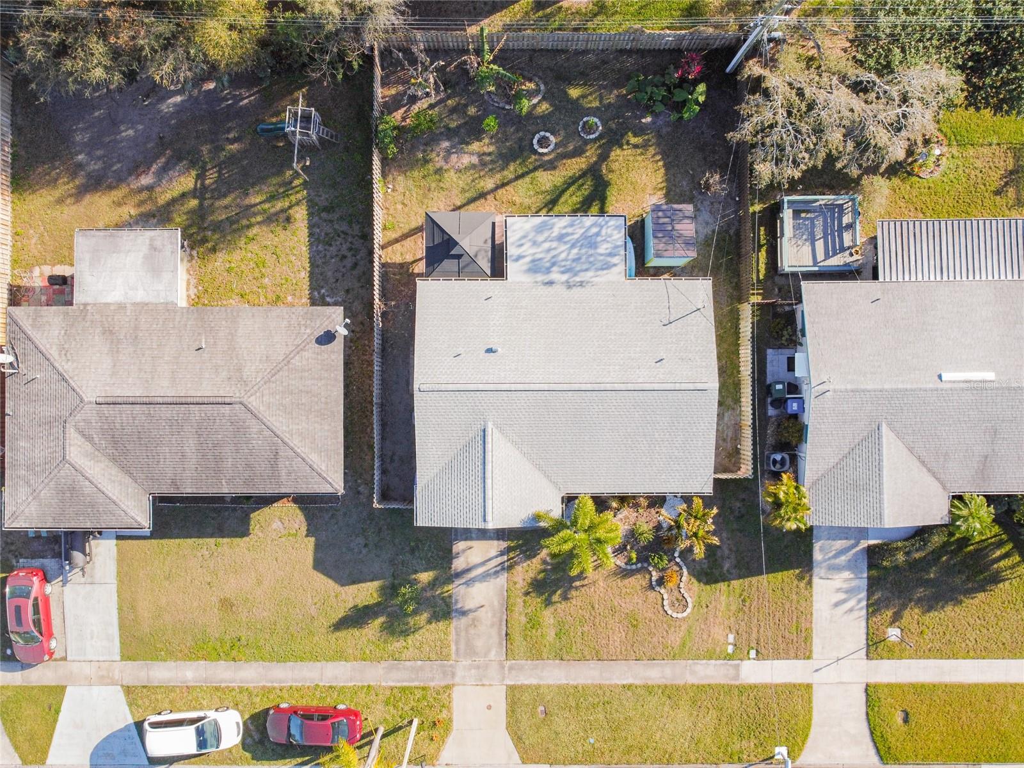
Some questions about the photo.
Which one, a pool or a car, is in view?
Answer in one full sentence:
Of the two, only a car appears.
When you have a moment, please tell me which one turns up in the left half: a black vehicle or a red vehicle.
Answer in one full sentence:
The feature located in the left half is a red vehicle.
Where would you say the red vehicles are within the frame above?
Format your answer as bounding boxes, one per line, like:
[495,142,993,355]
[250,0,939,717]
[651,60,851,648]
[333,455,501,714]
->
[6,570,61,662]
[269,703,361,753]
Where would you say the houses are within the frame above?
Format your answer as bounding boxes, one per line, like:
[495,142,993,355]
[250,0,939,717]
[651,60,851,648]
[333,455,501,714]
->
[4,228,347,532]
[412,213,719,530]
[793,218,1024,526]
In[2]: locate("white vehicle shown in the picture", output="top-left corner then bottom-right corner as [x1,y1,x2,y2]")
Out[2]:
[142,706,243,760]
